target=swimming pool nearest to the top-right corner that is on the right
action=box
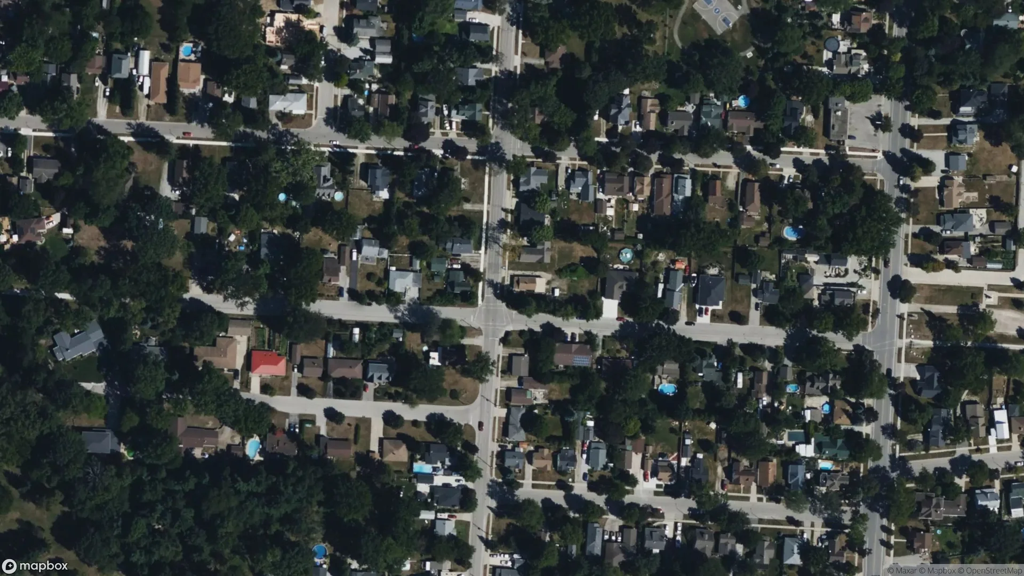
[824,36,840,52]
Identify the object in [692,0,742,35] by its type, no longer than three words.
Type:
basketball court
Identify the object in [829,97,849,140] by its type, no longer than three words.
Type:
building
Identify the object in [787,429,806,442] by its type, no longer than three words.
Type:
swimming pool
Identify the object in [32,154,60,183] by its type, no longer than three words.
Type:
house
